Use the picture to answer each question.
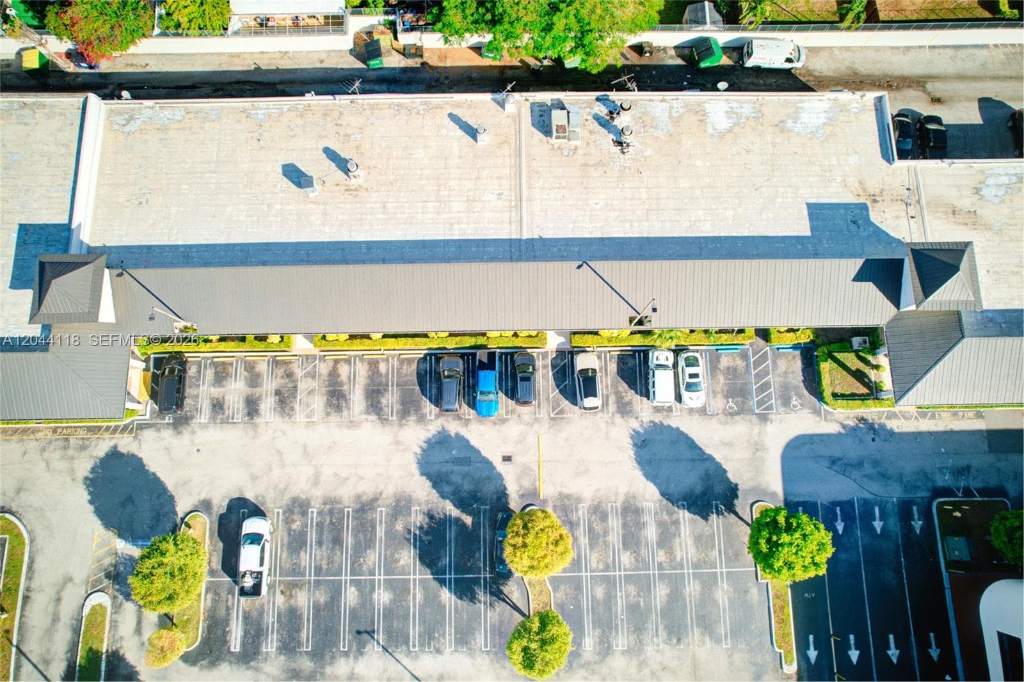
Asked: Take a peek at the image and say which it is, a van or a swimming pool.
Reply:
van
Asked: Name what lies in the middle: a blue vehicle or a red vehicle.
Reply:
blue vehicle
